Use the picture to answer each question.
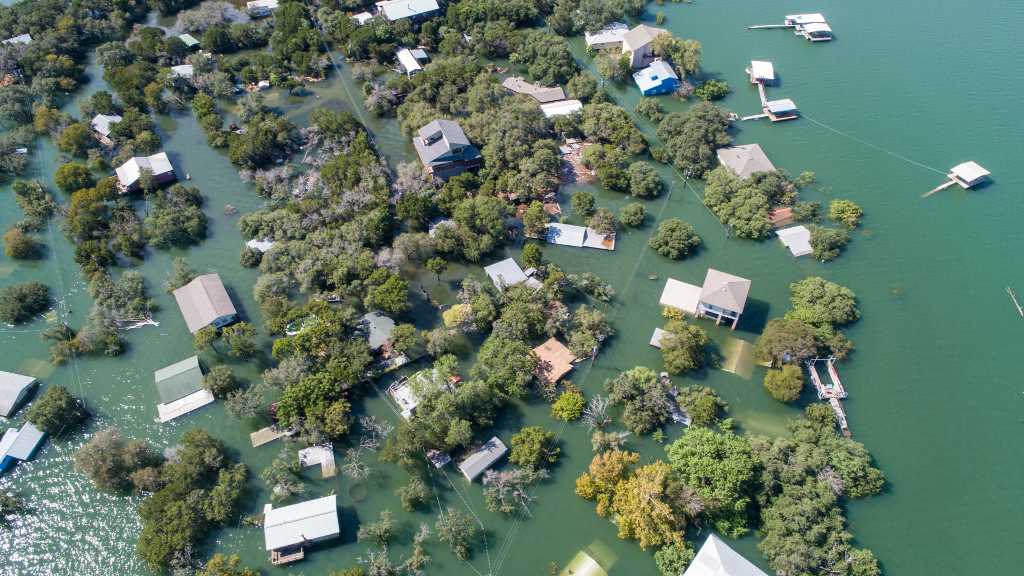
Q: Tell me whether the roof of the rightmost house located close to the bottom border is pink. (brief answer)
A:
No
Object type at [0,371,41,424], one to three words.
house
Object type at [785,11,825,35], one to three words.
building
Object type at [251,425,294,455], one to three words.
shed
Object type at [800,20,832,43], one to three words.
building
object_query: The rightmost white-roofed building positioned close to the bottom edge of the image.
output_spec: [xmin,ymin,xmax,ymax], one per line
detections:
[683,534,767,576]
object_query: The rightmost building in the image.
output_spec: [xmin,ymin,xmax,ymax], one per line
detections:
[944,160,989,192]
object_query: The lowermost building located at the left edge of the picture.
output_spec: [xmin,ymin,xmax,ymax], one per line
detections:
[0,421,51,471]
